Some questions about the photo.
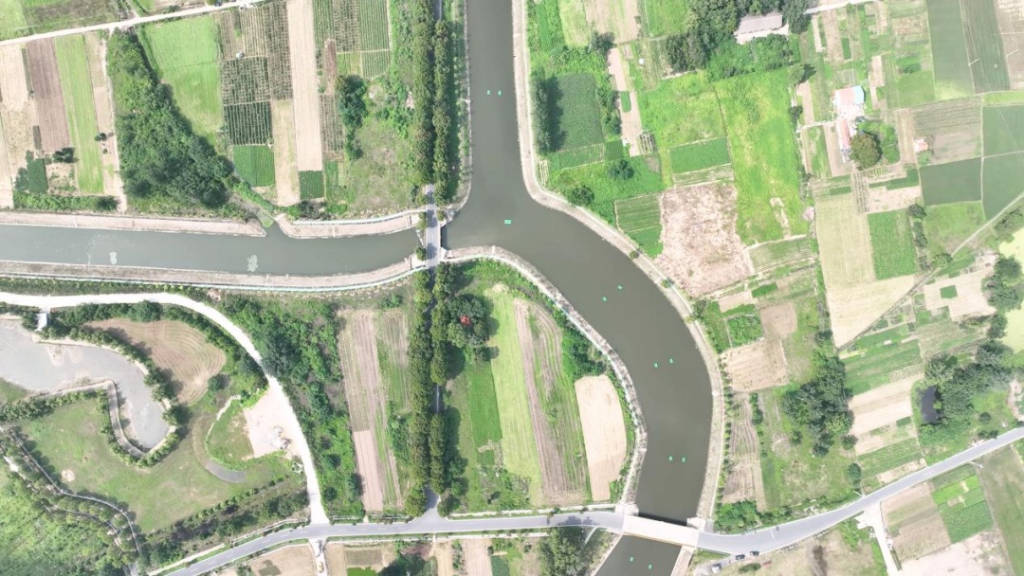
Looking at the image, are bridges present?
Yes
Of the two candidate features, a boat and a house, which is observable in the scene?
house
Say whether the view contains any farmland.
Yes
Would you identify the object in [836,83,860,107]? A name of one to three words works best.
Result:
house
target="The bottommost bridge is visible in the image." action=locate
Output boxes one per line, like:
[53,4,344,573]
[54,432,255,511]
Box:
[611,503,705,568]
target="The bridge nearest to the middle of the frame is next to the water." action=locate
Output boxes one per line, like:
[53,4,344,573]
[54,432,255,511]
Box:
[412,183,457,268]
